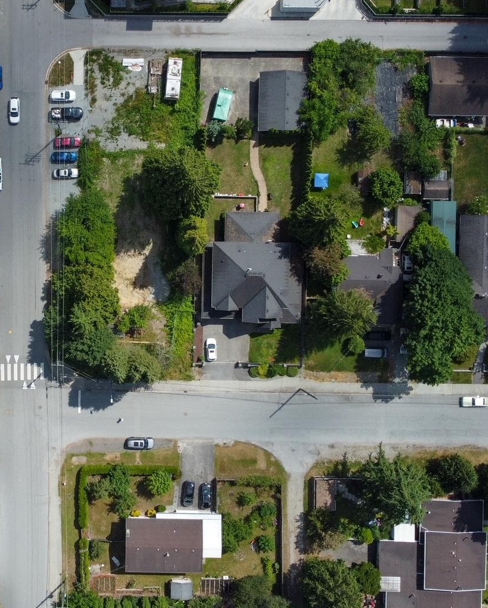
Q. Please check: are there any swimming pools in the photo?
No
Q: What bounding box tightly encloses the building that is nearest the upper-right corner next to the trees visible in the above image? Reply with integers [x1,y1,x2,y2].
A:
[424,56,488,117]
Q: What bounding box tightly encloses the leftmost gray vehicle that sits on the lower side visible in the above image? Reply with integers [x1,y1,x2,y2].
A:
[126,437,153,451]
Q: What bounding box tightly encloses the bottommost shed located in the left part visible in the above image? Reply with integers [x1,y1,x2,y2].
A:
[170,578,192,600]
